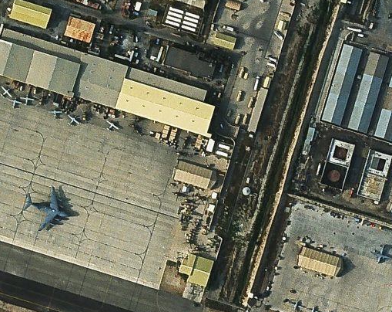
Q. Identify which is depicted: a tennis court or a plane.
plane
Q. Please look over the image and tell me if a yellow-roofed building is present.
Yes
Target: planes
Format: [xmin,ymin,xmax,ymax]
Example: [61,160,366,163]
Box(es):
[7,97,22,109]
[47,107,62,119]
[23,185,69,229]
[67,113,79,126]
[0,86,12,98]
[106,119,118,131]
[378,244,392,262]
[20,95,35,105]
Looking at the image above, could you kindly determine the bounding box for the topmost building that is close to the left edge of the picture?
[8,0,52,28]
